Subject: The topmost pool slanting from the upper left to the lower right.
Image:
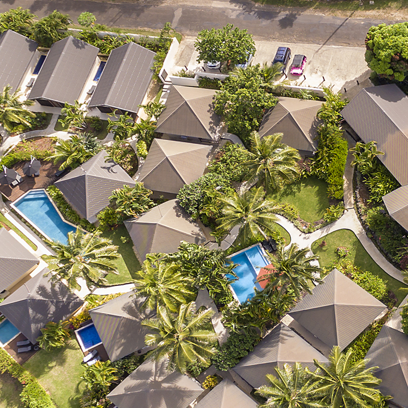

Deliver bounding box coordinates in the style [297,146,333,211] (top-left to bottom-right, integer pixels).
[7,187,89,260]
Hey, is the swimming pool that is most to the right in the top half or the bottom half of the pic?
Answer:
bottom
